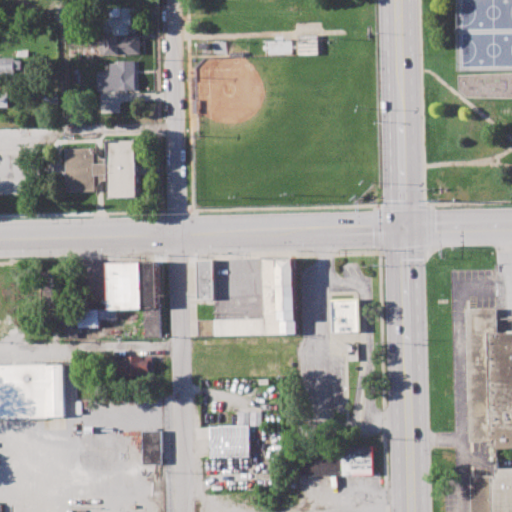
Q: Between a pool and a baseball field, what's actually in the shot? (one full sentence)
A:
Of the two, only a baseball field appears.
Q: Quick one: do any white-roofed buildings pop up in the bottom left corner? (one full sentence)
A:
Yes, a white-roofed building shows up in the bottom left corner.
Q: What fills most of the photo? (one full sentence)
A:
Most of the picture is covered by paved ground.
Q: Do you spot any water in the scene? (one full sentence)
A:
No, there's no water in this view.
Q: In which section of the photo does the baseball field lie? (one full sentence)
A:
Look in the top portion of the view to spot the baseball field.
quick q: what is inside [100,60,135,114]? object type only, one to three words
house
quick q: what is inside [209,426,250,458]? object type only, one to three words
building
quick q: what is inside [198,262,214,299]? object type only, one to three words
building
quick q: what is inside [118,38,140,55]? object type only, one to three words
house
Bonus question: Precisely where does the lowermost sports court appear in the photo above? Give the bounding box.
[463,34,512,67]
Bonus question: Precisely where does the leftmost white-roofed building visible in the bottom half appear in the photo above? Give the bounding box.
[0,364,63,420]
